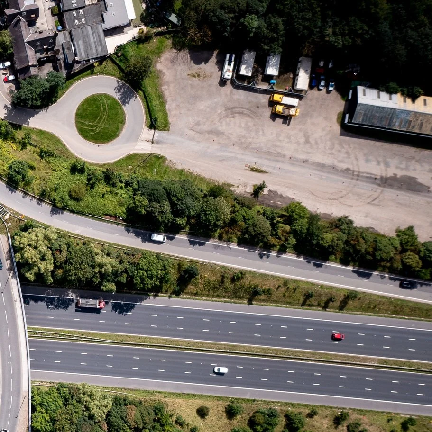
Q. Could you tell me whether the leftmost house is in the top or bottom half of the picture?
top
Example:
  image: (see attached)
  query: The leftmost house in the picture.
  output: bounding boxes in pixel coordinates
[0,0,54,81]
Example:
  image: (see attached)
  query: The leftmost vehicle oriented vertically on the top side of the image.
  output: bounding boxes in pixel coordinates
[219,52,233,81]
